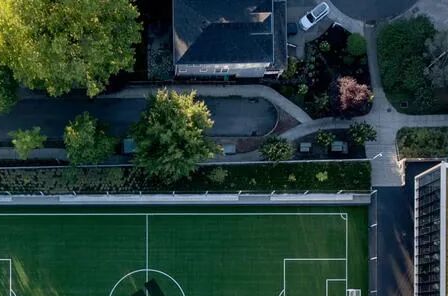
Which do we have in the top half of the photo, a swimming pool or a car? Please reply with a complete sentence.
Looking in the top half of the photo, you will find a car.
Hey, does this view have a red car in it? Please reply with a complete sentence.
No, the photo shows no red car.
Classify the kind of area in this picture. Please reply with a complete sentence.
It's a sports ground.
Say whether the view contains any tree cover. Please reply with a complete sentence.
Yes, tree cover shows up in the scene.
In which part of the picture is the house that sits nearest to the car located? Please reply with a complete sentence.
The house that sits nearest to the car sits in the top section of the image.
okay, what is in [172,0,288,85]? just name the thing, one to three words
house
